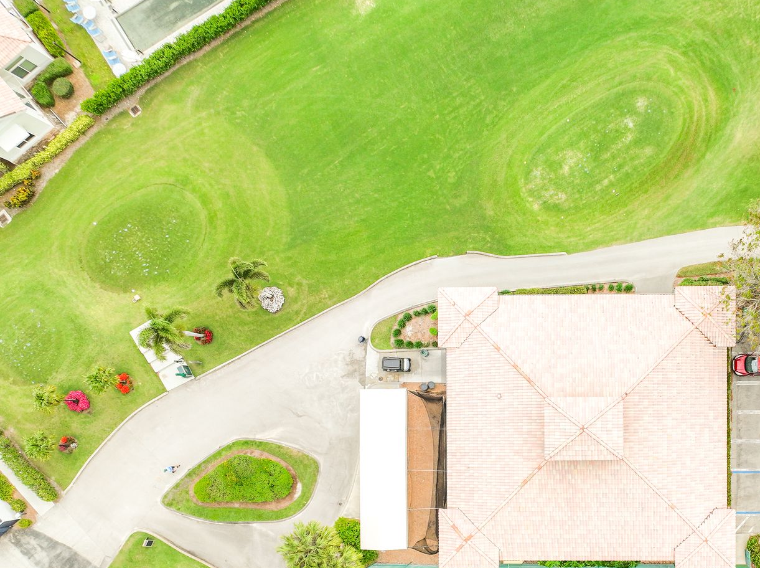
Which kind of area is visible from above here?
golf course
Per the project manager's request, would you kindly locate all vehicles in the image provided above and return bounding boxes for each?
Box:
[733,351,760,377]
[377,355,410,373]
